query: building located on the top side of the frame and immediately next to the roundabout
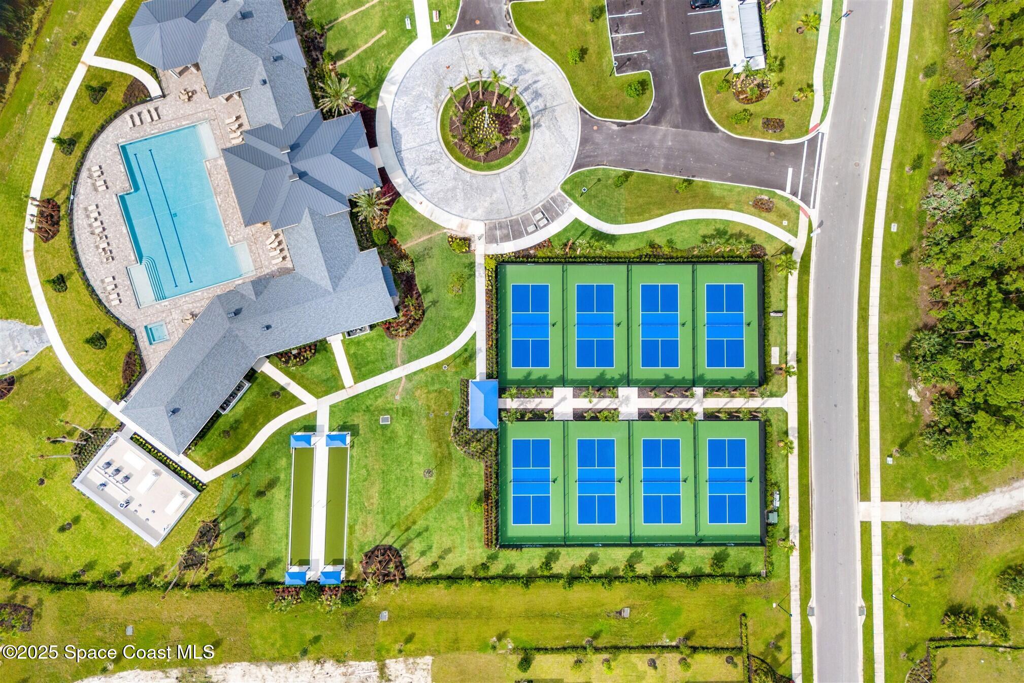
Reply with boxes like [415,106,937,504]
[119,0,400,455]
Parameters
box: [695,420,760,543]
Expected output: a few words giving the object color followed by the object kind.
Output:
green sports court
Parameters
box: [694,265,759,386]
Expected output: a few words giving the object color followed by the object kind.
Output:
green sports court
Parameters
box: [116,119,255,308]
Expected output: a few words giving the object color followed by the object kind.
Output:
blue swimming pool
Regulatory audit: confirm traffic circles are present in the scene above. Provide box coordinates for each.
[394,36,577,217]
